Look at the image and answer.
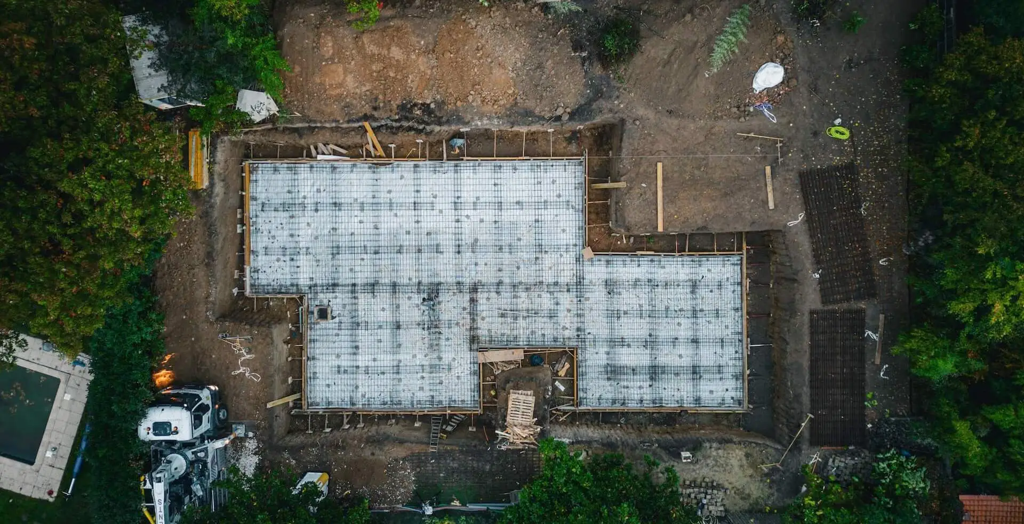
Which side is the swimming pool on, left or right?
left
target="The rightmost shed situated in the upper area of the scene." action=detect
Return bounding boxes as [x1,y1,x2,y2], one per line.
[236,81,279,127]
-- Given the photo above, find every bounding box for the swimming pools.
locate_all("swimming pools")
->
[0,356,72,478]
